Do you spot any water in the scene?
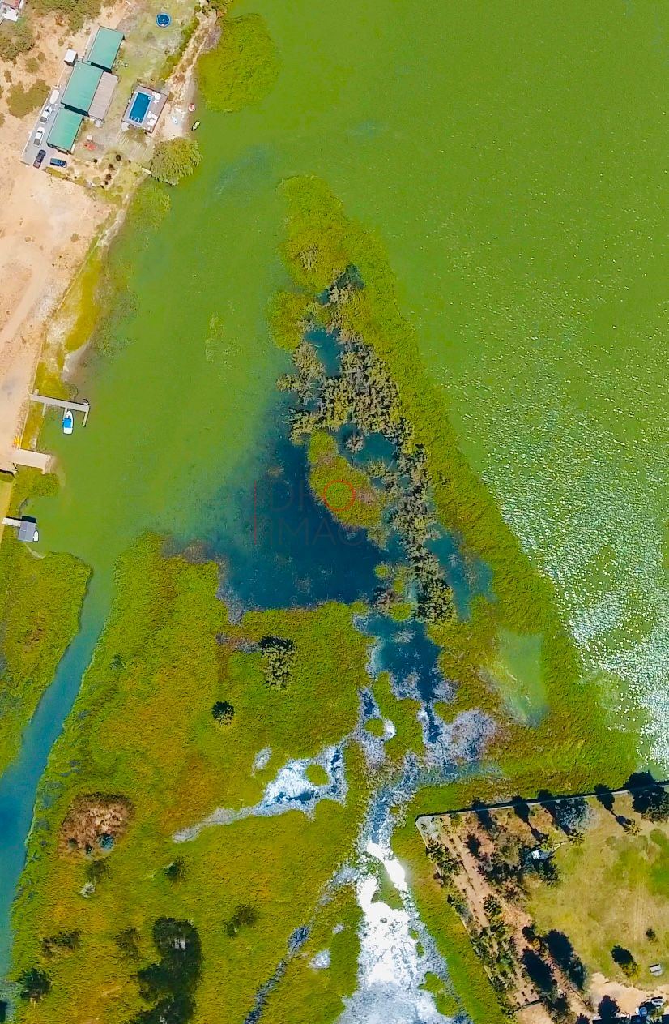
Yes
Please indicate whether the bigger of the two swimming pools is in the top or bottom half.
top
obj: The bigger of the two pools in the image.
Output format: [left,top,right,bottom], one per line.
[121,86,169,134]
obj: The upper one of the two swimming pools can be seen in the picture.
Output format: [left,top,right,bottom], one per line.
[156,12,171,28]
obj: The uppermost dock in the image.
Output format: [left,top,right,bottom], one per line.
[29,391,90,427]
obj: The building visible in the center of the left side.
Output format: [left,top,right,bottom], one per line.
[19,521,38,542]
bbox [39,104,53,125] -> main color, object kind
white vehicle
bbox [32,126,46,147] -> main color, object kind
white vehicle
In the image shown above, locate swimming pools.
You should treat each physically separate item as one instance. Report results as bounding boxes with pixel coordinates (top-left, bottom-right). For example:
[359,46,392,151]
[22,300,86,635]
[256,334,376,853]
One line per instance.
[121,86,169,134]
[156,12,171,28]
